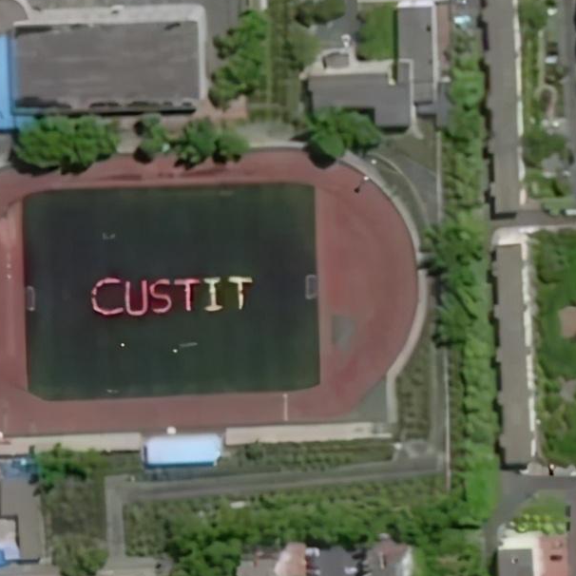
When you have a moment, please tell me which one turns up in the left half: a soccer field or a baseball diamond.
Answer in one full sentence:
There is a soccer field in the left half.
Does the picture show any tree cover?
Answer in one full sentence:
Yes, there is tree cover in the image.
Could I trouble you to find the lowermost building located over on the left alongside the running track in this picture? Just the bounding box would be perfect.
[0,474,47,562]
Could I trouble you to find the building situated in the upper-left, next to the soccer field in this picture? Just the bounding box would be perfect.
[16,1,207,114]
